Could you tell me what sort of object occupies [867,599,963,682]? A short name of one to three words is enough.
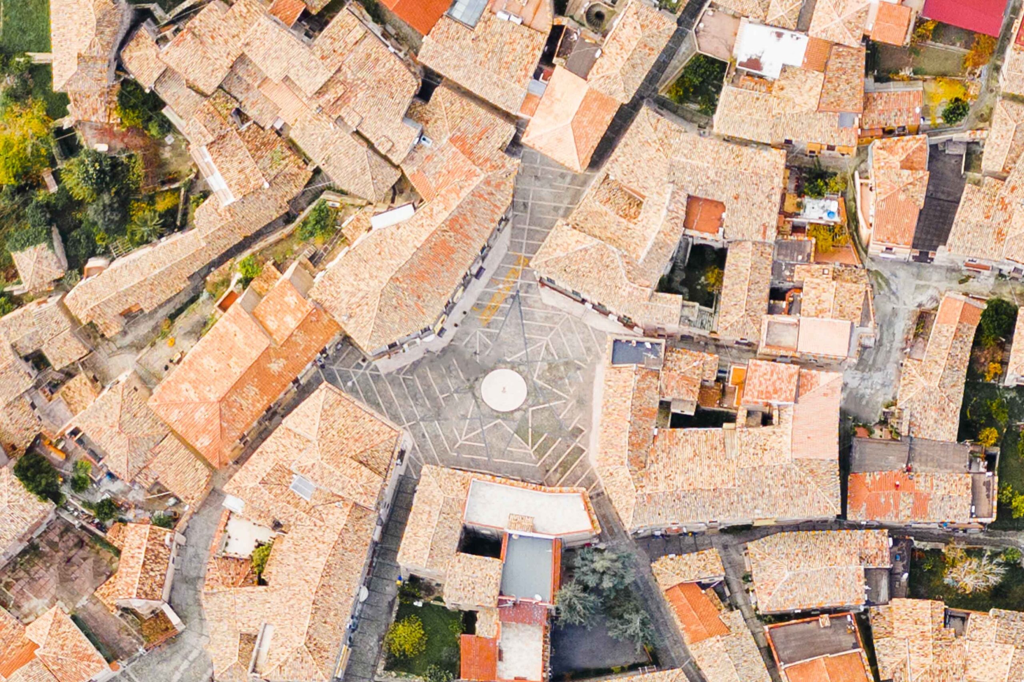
house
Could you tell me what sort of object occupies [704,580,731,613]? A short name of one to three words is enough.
building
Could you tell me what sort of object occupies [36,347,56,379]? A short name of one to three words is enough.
building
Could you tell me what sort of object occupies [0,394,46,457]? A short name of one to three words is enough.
house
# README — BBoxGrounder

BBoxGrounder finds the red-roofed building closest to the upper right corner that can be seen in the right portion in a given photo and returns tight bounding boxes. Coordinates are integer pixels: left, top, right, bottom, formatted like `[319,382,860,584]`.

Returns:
[918,0,1008,46]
